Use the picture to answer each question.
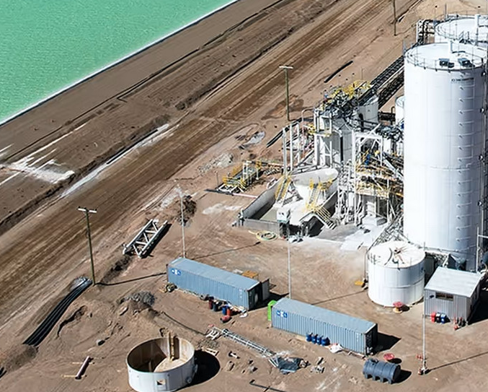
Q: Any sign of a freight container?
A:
Yes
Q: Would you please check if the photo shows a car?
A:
No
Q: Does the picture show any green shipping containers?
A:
No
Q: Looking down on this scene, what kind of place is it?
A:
industrial area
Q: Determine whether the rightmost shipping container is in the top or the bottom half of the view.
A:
bottom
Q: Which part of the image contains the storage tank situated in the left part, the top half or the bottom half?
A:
bottom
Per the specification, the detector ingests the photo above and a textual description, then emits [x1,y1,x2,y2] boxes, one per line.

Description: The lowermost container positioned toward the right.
[270,296,374,355]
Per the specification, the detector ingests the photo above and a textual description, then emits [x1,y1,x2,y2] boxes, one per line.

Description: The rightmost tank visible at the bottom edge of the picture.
[365,355,402,383]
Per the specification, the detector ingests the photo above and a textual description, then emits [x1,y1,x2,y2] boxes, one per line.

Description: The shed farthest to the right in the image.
[424,266,480,327]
